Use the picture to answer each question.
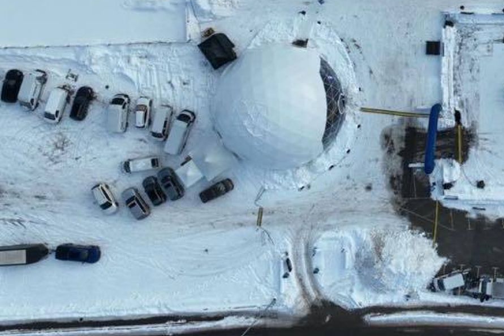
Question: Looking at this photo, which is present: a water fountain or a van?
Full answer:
I can see a van in this picture.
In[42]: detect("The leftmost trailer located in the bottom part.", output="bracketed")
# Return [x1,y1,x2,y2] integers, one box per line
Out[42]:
[0,243,54,268]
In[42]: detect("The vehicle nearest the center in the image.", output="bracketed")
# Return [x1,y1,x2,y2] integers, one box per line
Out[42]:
[198,177,237,202]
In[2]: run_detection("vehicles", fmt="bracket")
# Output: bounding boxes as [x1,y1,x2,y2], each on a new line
[151,104,176,140]
[91,180,122,215]
[125,154,162,174]
[158,164,188,201]
[123,184,154,220]
[434,267,470,291]
[0,68,28,104]
[45,84,75,124]
[16,69,49,109]
[135,96,155,128]
[106,93,134,134]
[140,173,170,207]
[198,177,237,202]
[53,241,103,265]
[70,85,99,122]
[160,106,199,157]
